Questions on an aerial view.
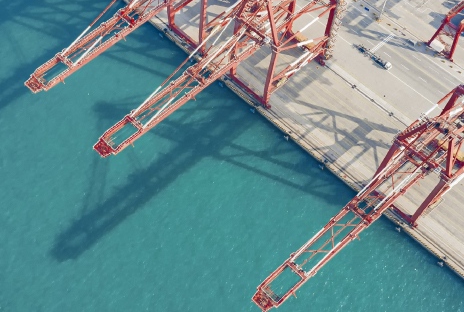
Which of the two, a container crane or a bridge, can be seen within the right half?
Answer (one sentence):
It is a container crane that can be seen within the right half.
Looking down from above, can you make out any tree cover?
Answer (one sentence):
No, no tree cover is visible.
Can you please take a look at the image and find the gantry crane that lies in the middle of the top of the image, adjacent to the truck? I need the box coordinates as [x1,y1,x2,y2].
[93,0,345,159]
